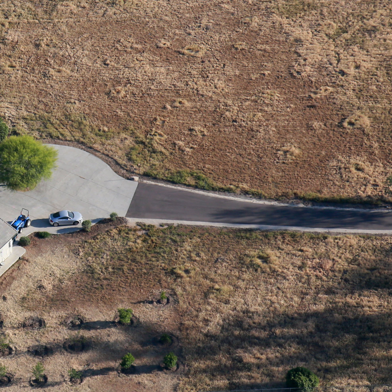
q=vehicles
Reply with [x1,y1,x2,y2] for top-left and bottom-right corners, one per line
[48,208,83,226]
[11,206,31,238]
